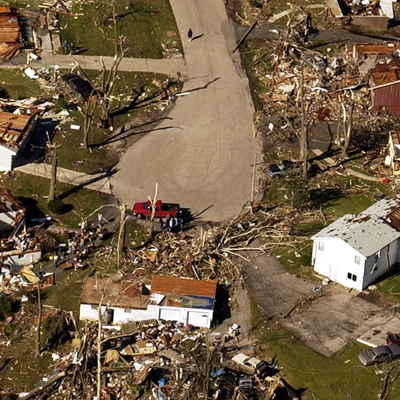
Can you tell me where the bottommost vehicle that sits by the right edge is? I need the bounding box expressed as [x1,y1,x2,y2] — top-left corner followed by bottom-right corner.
[356,345,400,368]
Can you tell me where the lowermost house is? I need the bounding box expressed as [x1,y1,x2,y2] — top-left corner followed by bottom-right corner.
[78,275,218,328]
